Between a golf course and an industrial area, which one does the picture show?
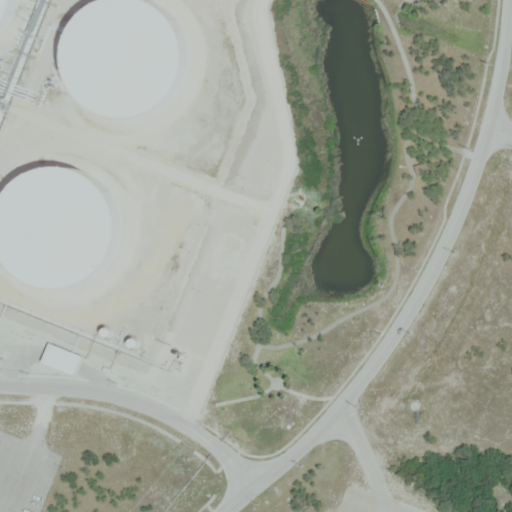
industrial area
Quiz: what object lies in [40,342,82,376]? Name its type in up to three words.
shed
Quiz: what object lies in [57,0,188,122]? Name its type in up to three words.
storage tank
